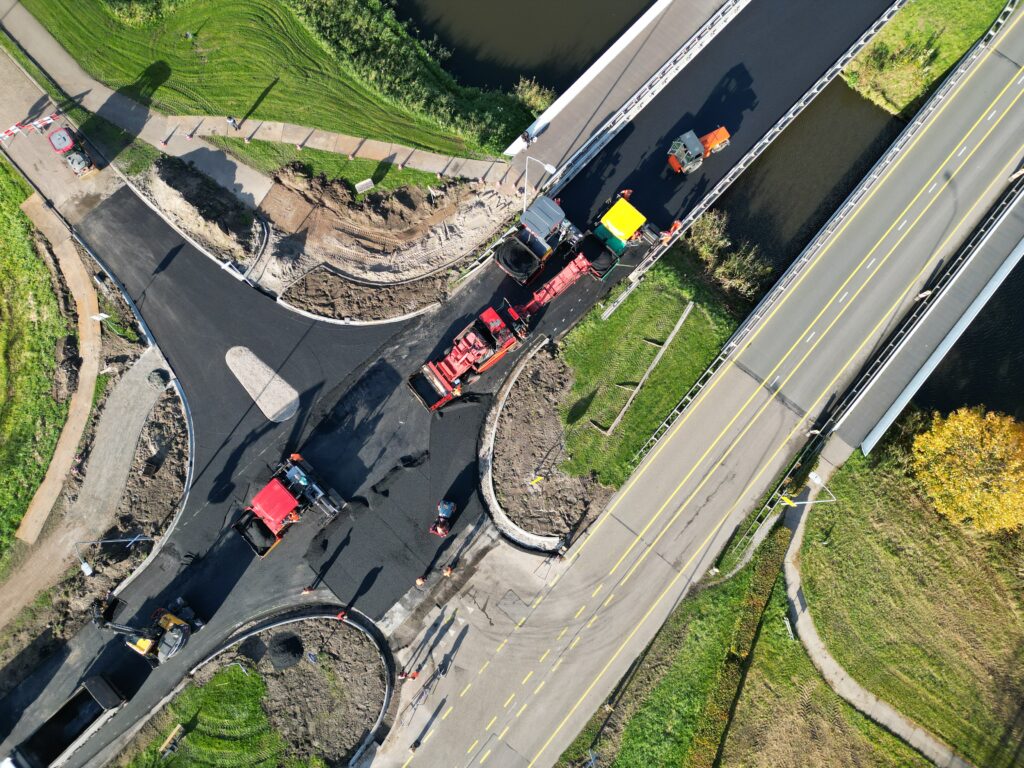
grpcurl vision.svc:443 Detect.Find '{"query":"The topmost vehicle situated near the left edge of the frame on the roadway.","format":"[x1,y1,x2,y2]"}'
[47,129,103,185]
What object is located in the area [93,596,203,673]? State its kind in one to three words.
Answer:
work vehicle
